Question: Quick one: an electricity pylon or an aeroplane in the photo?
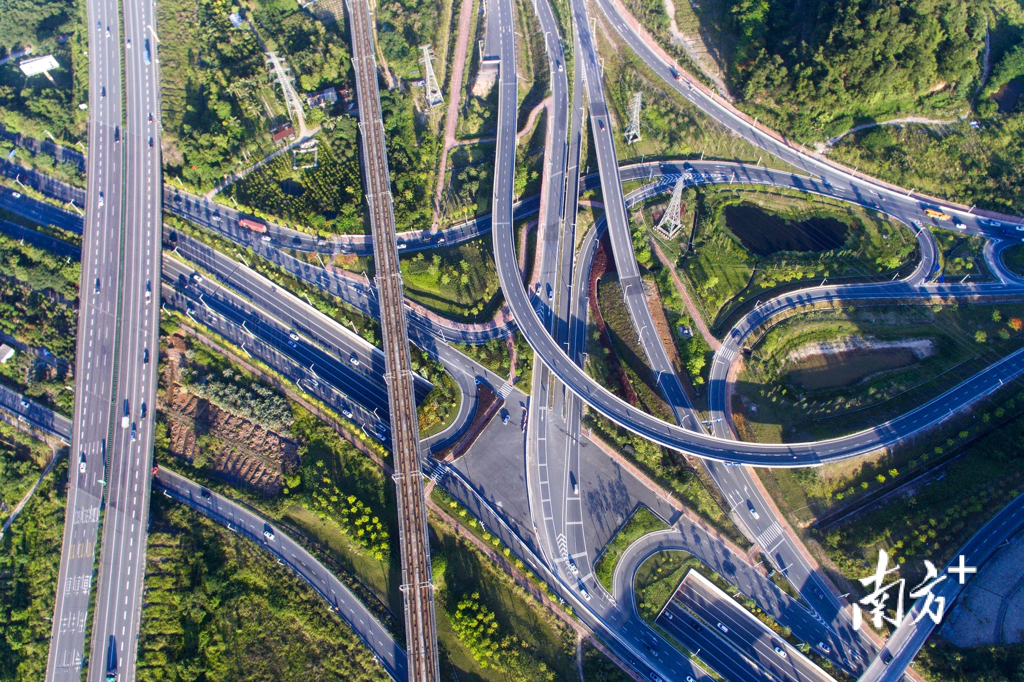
electricity pylon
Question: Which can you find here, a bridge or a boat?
bridge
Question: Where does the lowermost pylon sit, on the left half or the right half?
right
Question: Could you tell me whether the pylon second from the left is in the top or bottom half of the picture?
top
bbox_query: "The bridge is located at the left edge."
[42,0,163,682]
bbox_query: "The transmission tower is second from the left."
[422,48,446,108]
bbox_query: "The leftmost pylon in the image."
[271,55,306,118]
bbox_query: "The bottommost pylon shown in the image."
[649,168,689,243]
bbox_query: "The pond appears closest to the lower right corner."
[788,347,918,391]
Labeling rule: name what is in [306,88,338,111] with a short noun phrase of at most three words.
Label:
shed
